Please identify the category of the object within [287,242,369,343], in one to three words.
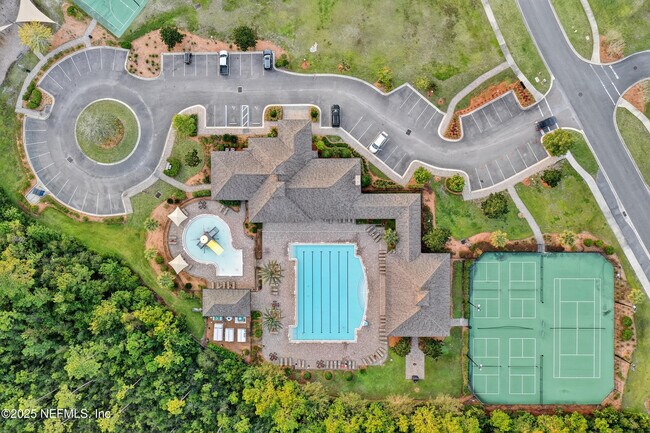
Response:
swimming pool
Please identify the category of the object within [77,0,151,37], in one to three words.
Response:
basketball court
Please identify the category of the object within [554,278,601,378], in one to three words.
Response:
tennis court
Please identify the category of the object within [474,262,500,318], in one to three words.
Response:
sports court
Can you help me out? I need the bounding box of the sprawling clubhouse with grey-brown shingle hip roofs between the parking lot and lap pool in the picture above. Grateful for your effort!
[211,120,451,336]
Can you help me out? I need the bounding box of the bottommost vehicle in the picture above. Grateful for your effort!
[371,130,388,152]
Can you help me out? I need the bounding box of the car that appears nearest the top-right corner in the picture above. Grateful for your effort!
[535,116,557,130]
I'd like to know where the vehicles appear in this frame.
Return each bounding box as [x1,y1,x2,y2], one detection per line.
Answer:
[331,105,340,128]
[219,51,229,76]
[263,50,272,70]
[535,116,557,130]
[371,130,388,152]
[183,53,191,65]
